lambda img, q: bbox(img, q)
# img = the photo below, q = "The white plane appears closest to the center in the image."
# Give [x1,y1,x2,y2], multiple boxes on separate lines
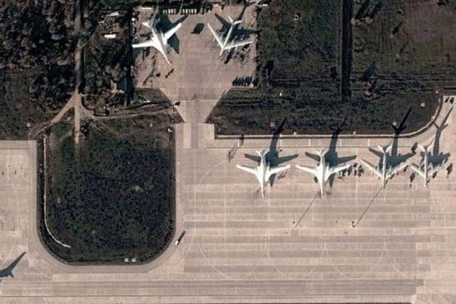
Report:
[236,149,291,198]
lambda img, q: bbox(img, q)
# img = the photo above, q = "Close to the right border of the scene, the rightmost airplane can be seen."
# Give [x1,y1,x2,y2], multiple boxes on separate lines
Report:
[410,141,444,187]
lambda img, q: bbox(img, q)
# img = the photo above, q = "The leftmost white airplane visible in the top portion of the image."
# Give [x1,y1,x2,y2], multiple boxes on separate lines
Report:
[132,19,181,65]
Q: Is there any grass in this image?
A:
Yes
